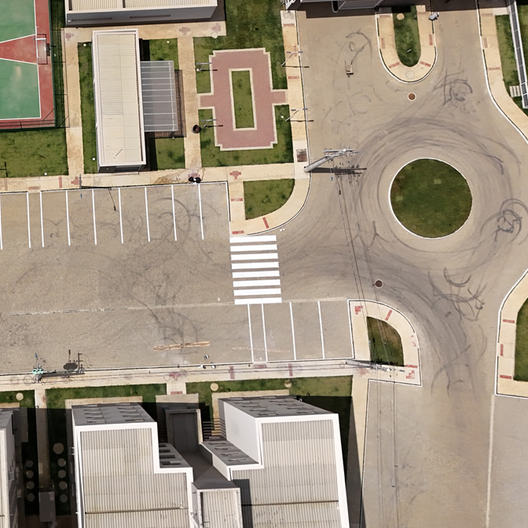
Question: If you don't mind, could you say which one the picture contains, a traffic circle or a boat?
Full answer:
The image shows a traffic circle.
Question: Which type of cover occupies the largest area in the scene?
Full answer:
What you mostly see from above here is paved ground.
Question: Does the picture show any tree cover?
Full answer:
No, tree cover can't be seen anywhere here.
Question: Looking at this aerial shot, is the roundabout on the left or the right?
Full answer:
The roundabout appears in the right half of the scene.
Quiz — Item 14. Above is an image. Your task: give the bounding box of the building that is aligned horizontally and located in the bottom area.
[61,389,349,528]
